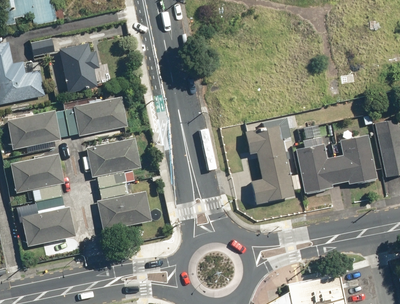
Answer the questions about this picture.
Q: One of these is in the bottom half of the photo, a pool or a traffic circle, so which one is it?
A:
traffic circle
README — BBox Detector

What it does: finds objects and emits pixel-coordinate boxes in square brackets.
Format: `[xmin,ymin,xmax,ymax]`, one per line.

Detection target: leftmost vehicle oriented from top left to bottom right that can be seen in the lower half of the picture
[230,240,246,253]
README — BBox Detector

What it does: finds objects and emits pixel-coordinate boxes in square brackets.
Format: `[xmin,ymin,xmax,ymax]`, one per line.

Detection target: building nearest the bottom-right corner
[289,275,349,304]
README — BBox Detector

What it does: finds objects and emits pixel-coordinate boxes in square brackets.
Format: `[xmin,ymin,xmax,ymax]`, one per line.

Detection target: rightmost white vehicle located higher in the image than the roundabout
[199,128,216,170]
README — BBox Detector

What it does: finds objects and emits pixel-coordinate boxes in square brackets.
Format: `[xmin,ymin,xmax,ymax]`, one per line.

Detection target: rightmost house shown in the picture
[375,120,400,176]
